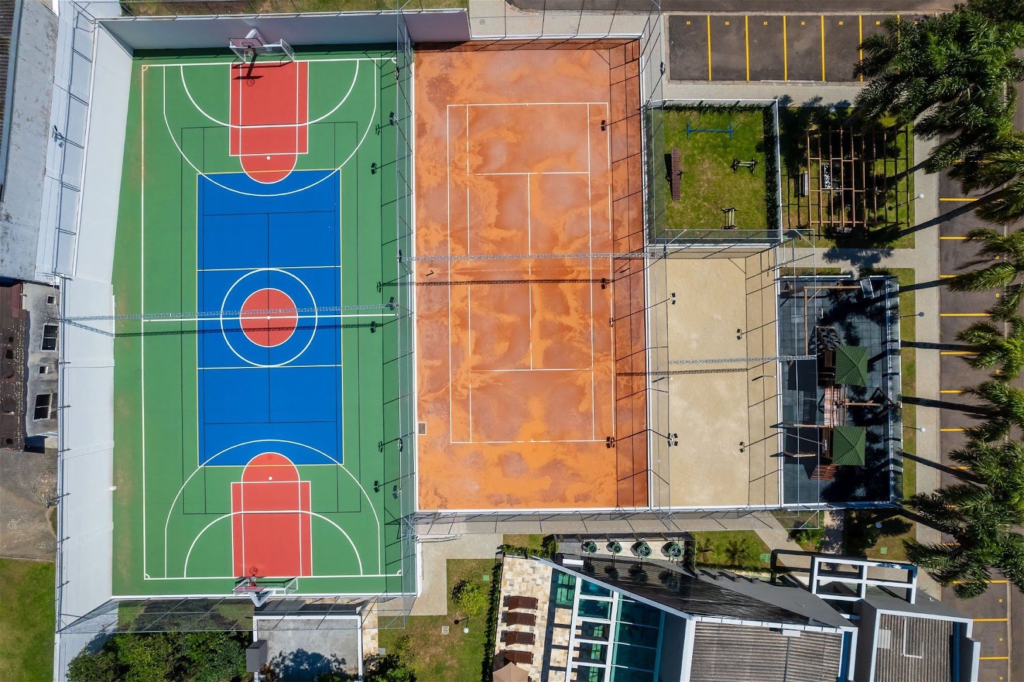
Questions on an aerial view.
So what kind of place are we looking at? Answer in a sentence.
The picture captures a sports ground.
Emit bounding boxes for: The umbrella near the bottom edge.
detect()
[491,661,531,682]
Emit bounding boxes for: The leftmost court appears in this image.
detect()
[112,41,416,594]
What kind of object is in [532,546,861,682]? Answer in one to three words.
building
